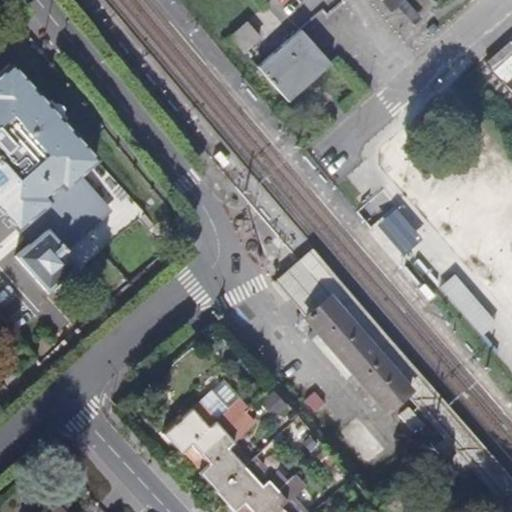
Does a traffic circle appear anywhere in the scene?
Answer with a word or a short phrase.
No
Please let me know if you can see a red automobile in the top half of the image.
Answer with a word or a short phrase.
No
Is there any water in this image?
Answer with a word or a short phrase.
No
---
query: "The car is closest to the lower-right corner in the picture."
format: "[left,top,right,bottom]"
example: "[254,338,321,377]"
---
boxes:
[284,360,302,376]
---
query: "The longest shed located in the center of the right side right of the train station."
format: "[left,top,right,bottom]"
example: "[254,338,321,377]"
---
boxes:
[440,274,494,334]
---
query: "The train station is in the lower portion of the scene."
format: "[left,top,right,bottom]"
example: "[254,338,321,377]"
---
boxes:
[305,294,416,416]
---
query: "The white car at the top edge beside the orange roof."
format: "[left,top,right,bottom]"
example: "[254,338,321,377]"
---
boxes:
[282,2,298,18]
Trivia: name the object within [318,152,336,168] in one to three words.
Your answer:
car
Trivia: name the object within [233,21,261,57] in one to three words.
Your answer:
shed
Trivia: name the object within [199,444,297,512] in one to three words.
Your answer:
house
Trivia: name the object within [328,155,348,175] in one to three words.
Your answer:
car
